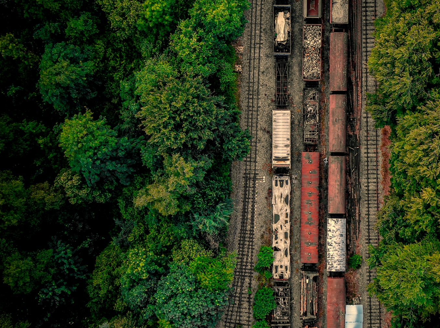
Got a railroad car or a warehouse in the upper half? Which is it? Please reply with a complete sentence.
Looking in the upper half, you will find a railroad car.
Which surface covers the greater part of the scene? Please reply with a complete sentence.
For the most part, this view shows trees.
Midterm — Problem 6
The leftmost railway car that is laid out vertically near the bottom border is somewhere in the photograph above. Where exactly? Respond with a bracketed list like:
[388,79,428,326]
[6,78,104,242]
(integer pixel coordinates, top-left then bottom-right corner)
[272,282,289,322]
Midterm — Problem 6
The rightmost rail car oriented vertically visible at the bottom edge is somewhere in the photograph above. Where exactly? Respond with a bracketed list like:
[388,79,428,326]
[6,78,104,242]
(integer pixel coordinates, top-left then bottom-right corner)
[300,267,317,322]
